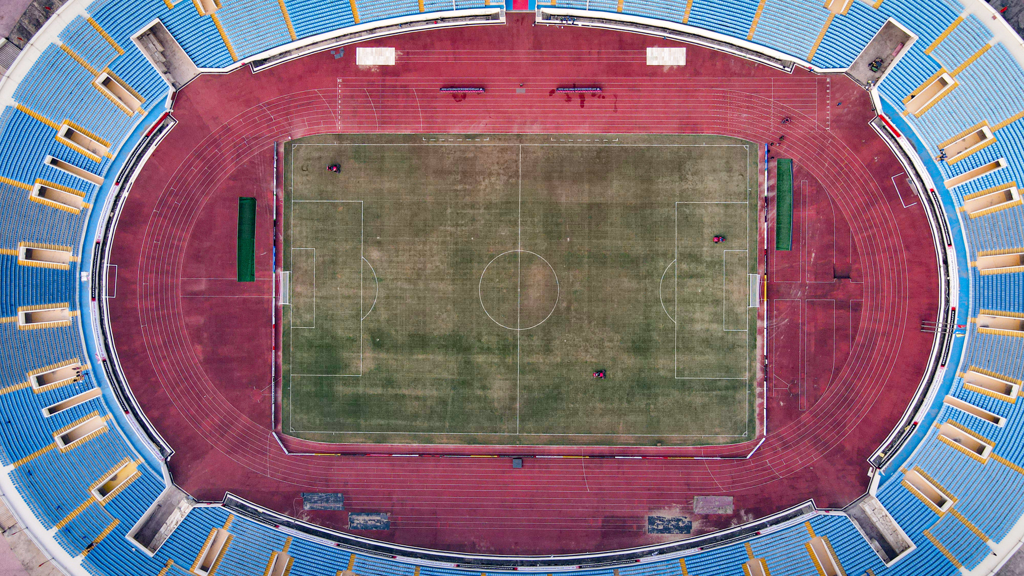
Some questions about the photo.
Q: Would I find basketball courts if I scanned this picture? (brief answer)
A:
No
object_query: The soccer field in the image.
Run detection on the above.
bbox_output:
[281,132,759,447]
